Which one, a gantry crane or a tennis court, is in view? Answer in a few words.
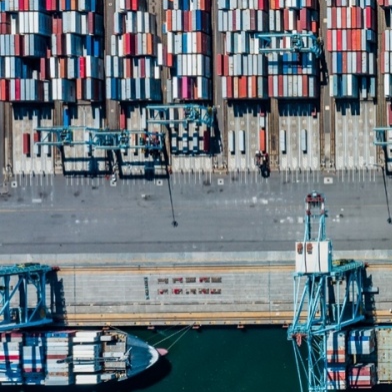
gantry crane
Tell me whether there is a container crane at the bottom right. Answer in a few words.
Yes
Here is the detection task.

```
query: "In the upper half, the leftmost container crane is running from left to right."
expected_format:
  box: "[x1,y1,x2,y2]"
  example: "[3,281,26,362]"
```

[30,125,108,152]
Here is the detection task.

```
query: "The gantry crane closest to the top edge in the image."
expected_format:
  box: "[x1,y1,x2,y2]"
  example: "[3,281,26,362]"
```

[257,33,325,64]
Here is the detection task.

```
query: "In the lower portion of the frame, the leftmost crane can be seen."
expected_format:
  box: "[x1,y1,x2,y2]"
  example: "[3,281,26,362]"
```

[0,260,69,346]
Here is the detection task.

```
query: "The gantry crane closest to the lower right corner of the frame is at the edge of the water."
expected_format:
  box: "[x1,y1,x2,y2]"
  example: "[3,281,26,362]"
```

[286,193,376,392]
